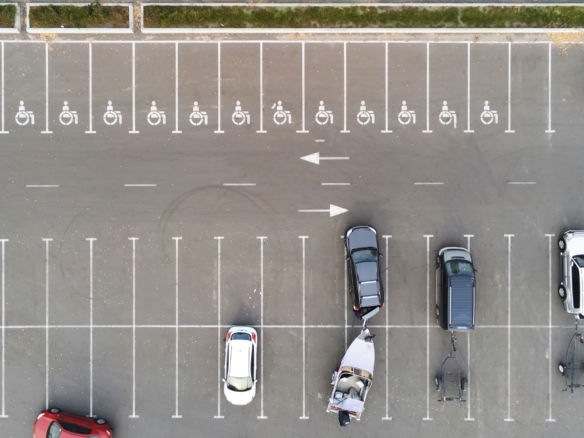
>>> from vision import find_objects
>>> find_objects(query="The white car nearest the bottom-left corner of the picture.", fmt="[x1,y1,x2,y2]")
[220,324,259,405]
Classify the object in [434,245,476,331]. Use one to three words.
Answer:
van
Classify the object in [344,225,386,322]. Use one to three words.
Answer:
car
